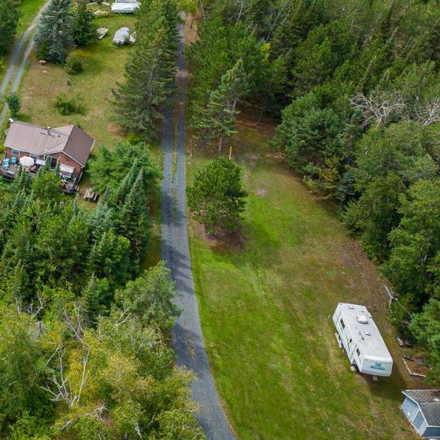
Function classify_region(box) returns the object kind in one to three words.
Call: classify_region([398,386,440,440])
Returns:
building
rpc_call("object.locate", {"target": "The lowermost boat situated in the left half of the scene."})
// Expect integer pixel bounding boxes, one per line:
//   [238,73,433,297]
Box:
[115,27,133,49]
